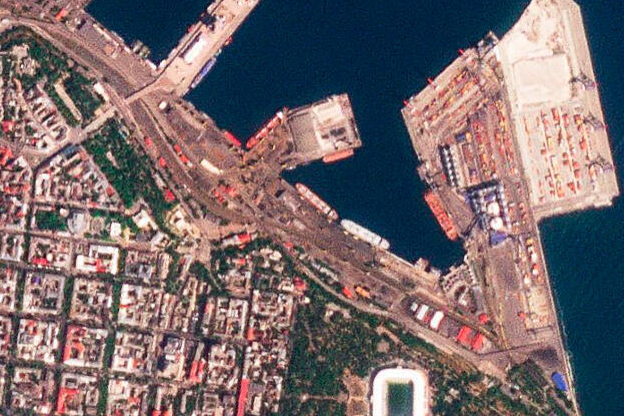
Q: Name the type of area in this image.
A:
port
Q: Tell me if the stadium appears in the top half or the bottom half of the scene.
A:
bottom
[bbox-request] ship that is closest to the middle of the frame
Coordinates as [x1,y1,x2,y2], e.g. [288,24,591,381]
[298,185,339,221]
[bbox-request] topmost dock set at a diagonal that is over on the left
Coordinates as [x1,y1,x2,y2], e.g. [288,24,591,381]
[150,0,254,97]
